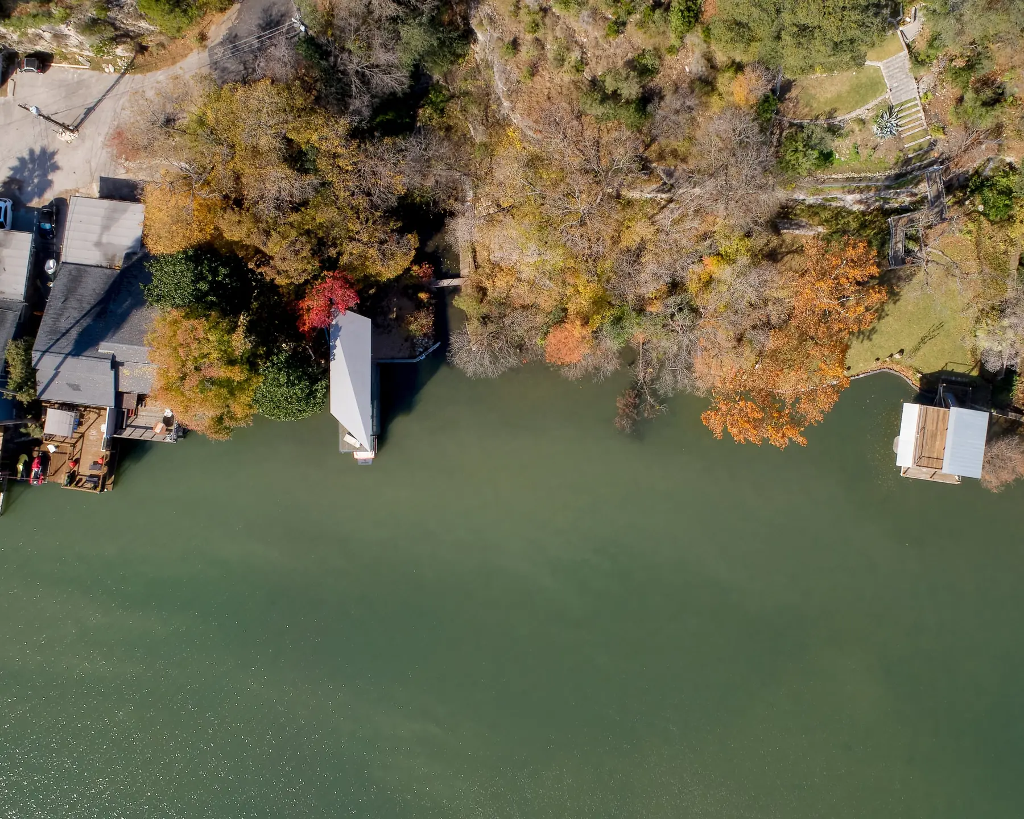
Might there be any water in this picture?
Yes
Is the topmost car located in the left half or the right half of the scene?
left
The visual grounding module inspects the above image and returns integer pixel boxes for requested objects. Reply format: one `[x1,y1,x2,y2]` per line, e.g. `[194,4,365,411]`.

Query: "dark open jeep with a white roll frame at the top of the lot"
[8,49,47,73]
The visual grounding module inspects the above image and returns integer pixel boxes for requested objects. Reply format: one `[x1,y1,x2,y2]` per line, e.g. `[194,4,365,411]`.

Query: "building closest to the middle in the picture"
[323,308,381,454]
